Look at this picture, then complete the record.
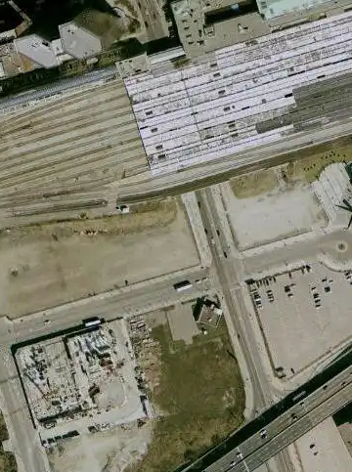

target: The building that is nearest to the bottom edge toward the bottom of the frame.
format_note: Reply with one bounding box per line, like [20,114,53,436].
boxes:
[198,300,222,328]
